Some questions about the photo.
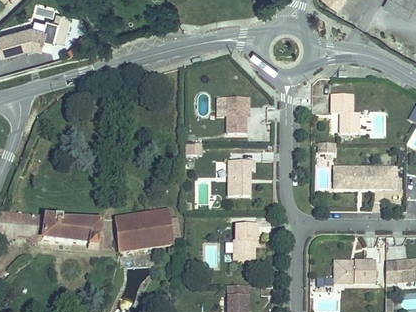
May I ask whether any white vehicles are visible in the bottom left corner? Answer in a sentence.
No, in the bottom left corner there is no white vehicle.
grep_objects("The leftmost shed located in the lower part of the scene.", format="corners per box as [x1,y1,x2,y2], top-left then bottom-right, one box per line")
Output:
[0,212,40,240]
